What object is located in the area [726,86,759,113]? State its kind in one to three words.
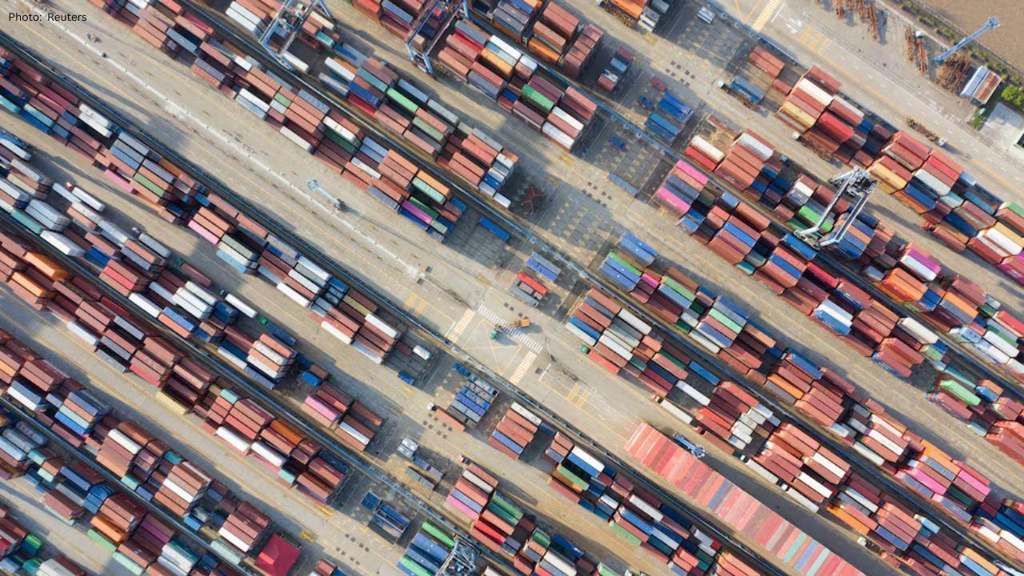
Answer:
shipping container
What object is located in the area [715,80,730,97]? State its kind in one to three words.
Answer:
vehicle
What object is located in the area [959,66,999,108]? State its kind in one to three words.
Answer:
shed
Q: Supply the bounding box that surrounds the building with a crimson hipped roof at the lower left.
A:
[254,532,305,576]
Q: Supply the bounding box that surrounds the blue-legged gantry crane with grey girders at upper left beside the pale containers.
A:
[257,0,341,74]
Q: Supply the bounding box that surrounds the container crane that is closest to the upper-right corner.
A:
[793,166,880,251]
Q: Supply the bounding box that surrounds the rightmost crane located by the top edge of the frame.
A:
[399,0,465,82]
